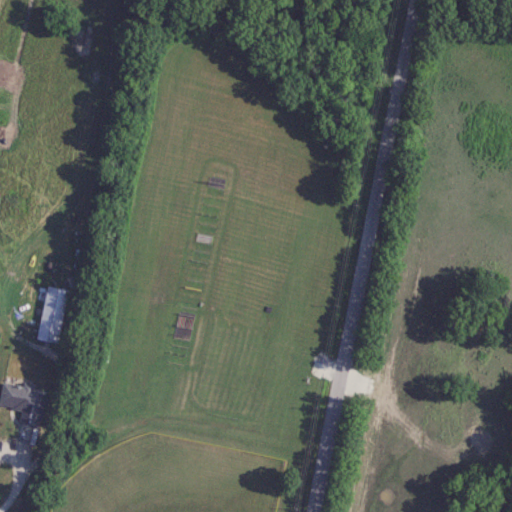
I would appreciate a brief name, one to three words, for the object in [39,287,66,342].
barn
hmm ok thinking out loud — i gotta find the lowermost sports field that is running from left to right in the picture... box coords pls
[56,434,284,512]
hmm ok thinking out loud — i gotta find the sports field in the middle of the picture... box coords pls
[98,42,354,461]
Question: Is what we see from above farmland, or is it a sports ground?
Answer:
sports ground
